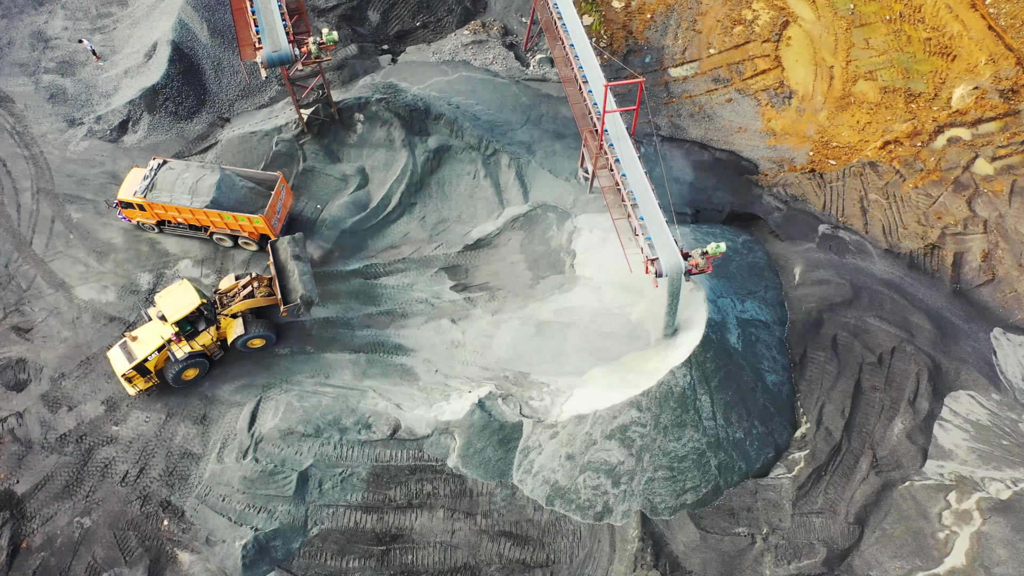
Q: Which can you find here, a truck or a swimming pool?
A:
truck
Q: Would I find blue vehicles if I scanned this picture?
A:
No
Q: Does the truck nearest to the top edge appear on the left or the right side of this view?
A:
left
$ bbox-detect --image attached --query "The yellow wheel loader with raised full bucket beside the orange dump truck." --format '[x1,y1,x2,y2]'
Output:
[111,242,325,396]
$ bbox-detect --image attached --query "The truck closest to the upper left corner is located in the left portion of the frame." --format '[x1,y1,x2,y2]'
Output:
[98,154,294,251]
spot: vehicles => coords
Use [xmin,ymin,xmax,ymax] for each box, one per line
[98,154,294,251]
[111,242,325,396]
